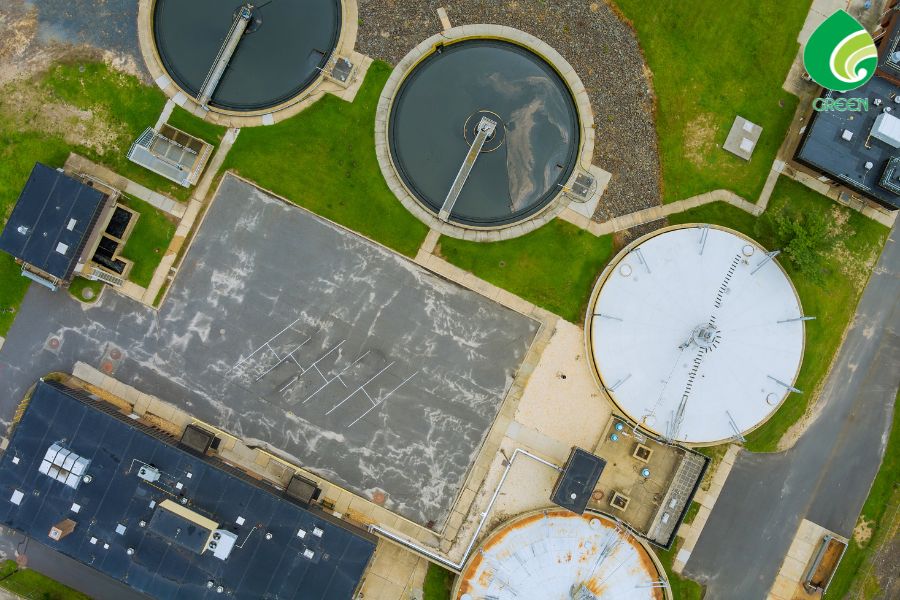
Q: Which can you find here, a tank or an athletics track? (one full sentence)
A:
I can see a tank in this picture.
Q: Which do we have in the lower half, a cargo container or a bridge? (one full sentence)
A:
What appears in the lower half is a cargo container.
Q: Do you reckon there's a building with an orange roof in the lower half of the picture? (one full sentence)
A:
No, no building with an orange roof is visible in the lower half of the picture.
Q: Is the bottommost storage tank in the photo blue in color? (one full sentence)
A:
No, from above the bottommost storage tank looks white.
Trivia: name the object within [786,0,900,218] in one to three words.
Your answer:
building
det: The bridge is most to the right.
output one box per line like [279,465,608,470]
[439,113,494,221]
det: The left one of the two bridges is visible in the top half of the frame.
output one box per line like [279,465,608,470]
[200,1,250,105]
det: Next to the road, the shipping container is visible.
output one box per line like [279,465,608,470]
[801,530,846,593]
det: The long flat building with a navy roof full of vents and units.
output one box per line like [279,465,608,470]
[0,378,377,600]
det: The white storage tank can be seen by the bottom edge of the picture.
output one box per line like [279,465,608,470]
[452,502,671,600]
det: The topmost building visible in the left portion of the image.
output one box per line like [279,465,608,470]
[0,163,114,290]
